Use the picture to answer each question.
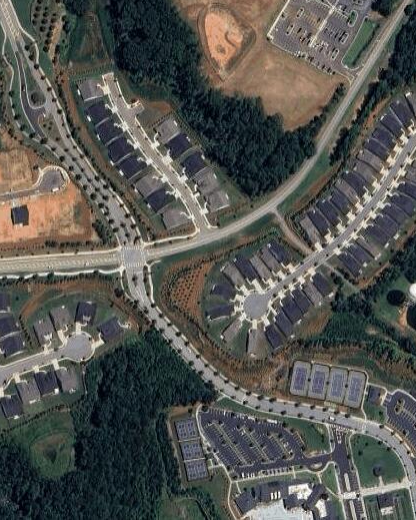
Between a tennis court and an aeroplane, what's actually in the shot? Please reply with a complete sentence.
Visible in the photo is a tennis court.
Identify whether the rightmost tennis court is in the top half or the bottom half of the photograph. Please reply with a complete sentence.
Seen from above, the rightmost tennis court lies in the bottom half of the view.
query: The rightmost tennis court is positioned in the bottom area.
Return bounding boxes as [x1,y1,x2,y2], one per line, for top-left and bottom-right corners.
[346,370,366,407]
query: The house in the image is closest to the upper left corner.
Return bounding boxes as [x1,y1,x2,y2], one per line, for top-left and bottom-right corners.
[77,75,104,102]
